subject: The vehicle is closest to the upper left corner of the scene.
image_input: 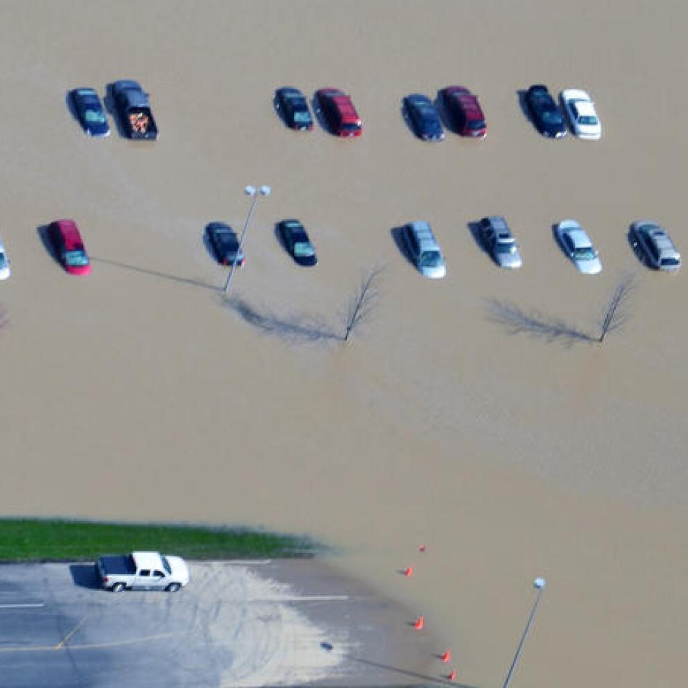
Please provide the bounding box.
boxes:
[72,88,110,138]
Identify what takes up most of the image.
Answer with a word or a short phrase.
water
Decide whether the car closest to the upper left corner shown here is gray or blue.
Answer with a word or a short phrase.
blue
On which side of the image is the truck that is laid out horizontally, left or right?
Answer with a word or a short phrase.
left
